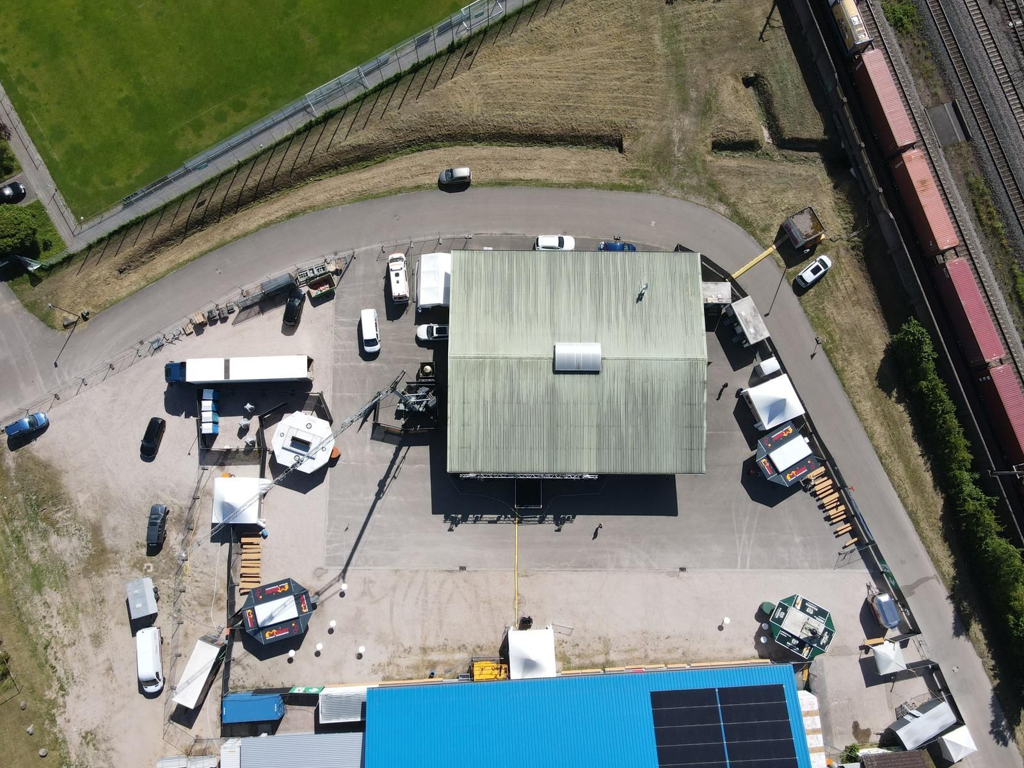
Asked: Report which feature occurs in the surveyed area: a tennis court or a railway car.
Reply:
railway car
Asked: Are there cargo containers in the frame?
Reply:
Yes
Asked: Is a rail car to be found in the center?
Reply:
No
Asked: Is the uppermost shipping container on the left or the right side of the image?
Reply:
right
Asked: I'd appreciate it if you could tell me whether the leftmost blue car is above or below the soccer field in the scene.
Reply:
below it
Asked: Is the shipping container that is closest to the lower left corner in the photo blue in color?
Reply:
Yes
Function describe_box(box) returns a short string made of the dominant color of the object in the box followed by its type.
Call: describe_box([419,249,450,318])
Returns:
white tent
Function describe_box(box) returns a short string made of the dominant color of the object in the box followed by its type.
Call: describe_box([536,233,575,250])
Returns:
white car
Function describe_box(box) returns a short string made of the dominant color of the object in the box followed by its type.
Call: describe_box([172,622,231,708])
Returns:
white trailer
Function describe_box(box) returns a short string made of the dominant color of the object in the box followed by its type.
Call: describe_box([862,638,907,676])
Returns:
white tent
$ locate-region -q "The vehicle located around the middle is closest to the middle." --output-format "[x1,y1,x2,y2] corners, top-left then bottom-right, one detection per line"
[417,322,448,341]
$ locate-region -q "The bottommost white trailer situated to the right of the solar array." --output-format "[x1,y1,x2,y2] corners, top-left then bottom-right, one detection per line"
[877,686,956,749]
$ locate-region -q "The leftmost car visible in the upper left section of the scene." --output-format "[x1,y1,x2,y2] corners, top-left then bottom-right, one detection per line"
[0,182,26,203]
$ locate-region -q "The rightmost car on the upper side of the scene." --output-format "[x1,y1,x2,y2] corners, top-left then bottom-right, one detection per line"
[793,254,832,289]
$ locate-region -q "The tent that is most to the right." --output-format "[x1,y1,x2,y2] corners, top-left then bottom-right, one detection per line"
[931,720,978,763]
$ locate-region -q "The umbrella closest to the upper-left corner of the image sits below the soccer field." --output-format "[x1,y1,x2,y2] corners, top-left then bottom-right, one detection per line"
[11,253,51,271]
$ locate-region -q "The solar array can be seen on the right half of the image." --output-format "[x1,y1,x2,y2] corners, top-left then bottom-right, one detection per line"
[651,685,798,768]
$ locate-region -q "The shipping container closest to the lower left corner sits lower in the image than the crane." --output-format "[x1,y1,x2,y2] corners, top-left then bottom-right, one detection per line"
[223,688,286,721]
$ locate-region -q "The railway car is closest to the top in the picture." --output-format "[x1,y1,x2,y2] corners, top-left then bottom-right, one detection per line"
[824,0,865,62]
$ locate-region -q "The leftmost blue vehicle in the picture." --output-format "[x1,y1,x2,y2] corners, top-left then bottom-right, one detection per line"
[2,412,51,440]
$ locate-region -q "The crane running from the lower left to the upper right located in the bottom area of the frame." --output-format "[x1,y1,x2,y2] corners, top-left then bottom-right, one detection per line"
[181,370,445,561]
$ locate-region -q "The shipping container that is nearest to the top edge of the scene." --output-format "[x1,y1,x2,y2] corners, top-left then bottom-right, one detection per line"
[825,0,878,57]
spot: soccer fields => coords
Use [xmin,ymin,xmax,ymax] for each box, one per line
[0,0,482,219]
